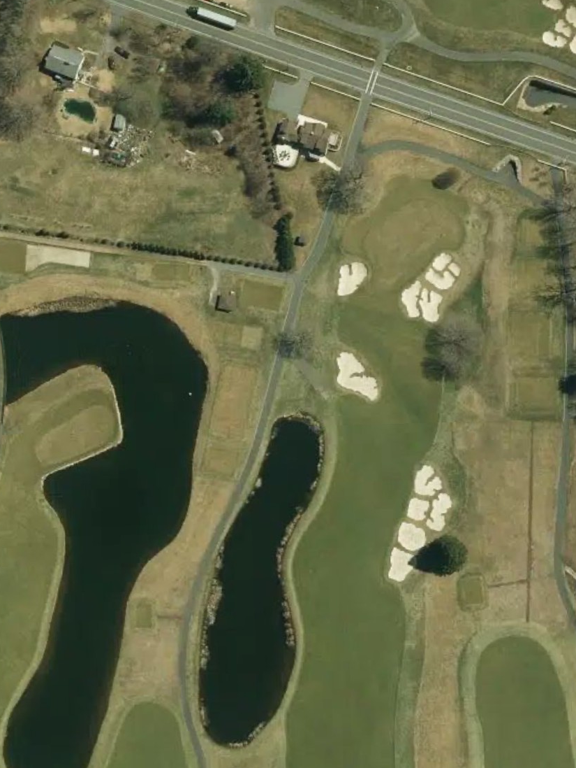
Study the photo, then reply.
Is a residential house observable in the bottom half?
No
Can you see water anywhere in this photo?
Yes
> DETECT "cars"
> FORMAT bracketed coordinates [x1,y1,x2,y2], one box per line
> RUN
[115,47,128,57]
[108,57,115,69]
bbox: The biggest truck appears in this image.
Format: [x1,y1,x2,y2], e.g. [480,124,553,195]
[185,2,236,25]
